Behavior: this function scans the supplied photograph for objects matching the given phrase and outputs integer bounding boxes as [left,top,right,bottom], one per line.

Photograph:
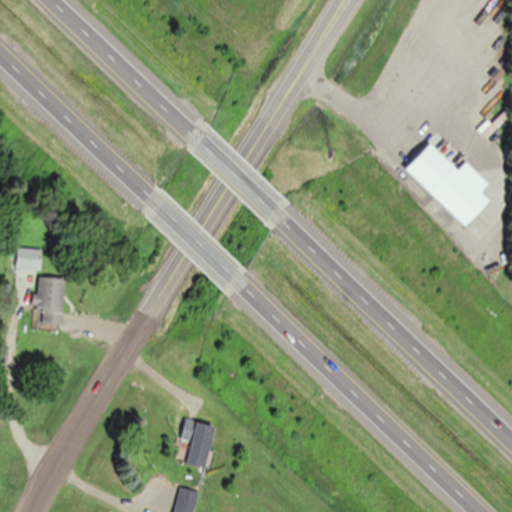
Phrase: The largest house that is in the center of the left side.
[32,277,65,331]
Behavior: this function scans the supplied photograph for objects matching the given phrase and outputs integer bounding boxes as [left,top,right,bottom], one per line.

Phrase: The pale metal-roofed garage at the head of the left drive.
[16,248,42,272]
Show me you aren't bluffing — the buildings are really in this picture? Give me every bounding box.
[16,248,42,272]
[405,144,492,228]
[32,277,65,331]
[175,487,198,512]
[174,419,215,468]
